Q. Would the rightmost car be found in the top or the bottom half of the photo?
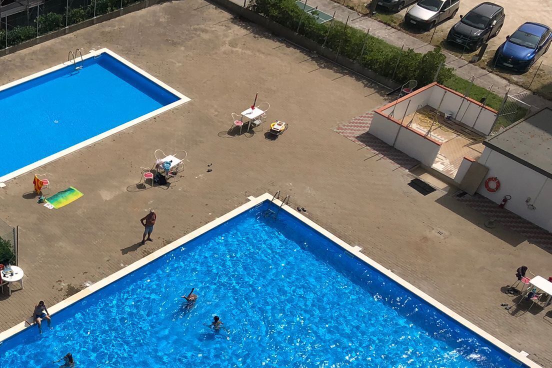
top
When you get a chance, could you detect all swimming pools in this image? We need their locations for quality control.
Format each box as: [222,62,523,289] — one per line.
[0,48,191,188]
[0,193,543,368]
